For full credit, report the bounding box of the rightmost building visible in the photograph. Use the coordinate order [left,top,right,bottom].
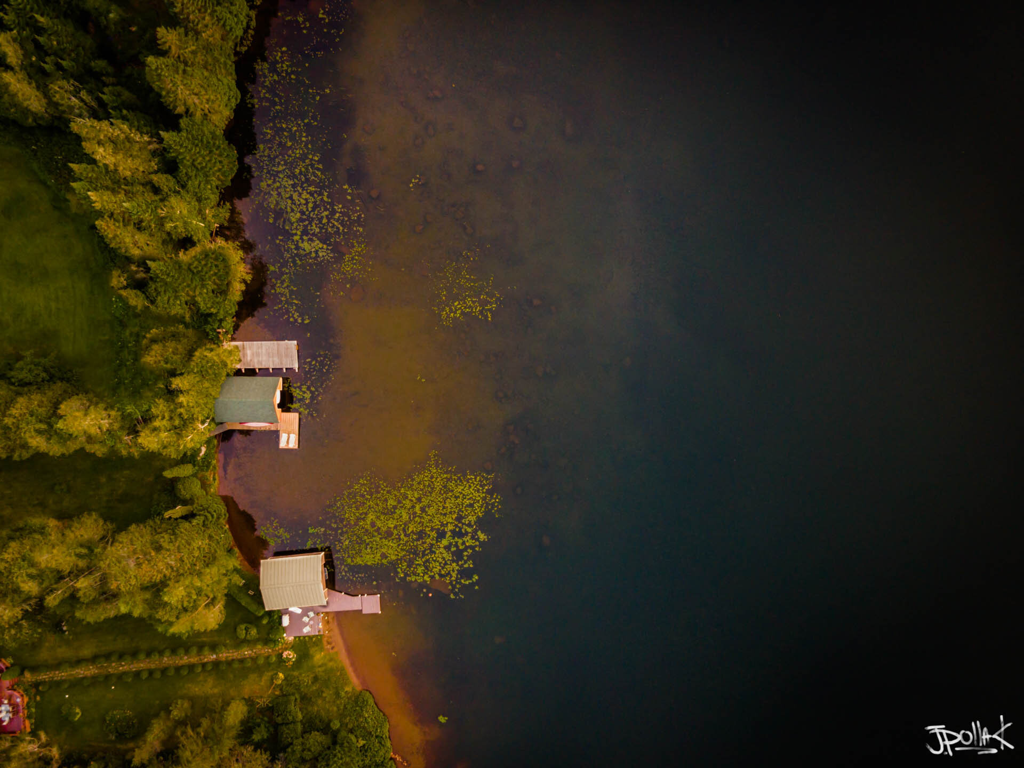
[259,551,329,611]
